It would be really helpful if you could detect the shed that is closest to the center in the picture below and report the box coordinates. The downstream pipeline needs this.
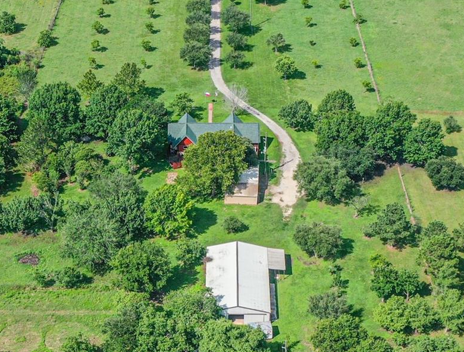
[224,166,258,205]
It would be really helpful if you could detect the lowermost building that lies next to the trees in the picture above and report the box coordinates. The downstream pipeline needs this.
[206,240,286,331]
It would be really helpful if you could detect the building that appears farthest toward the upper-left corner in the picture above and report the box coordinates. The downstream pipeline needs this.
[168,112,258,171]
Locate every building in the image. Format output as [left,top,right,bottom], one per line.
[168,112,258,171]
[224,166,258,205]
[206,240,286,331]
